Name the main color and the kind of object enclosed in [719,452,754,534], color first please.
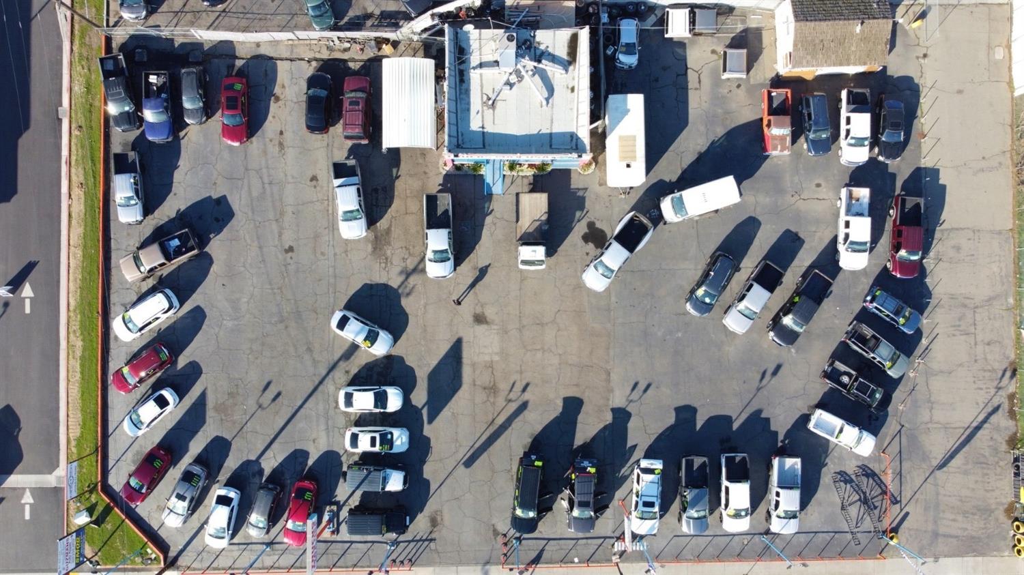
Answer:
white truck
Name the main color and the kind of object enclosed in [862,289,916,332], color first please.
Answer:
blue car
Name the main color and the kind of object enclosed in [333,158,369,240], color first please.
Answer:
white truck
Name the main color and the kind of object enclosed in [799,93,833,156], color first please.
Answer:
blue car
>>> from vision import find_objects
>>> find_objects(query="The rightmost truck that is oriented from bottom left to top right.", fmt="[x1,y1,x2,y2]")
[771,268,837,347]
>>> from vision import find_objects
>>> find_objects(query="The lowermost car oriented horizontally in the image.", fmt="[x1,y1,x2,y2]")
[344,506,409,538]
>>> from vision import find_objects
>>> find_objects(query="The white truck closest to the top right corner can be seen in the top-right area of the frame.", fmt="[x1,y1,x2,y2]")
[837,87,874,168]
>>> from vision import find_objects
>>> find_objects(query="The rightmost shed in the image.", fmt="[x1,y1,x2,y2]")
[777,0,895,78]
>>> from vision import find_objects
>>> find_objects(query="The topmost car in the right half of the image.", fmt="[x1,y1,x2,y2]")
[614,19,641,71]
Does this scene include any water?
No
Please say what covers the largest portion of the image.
paved ground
